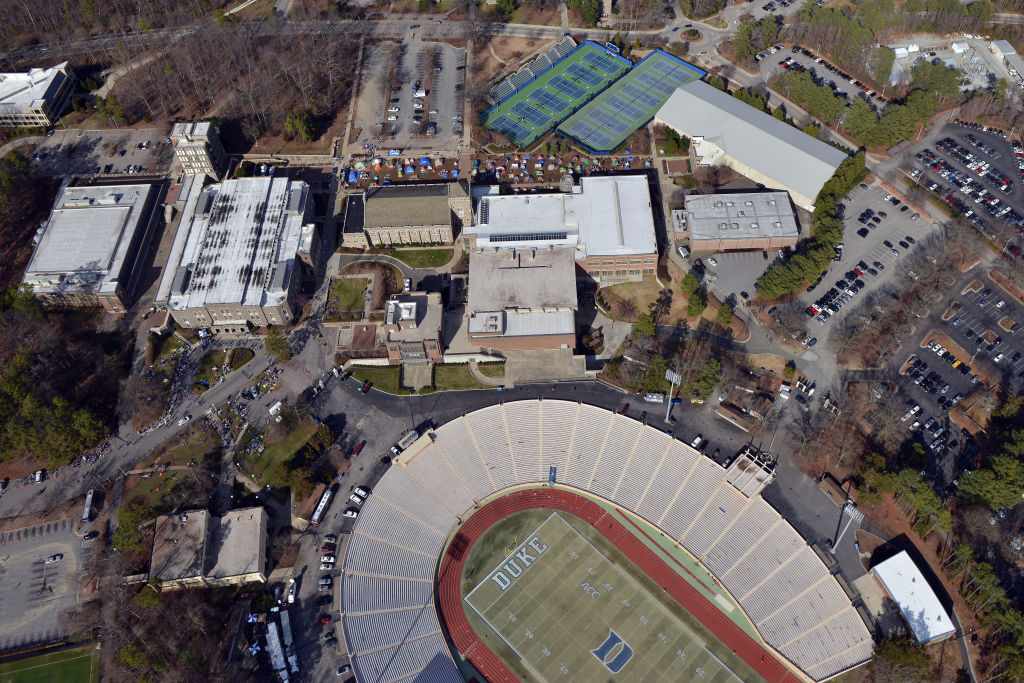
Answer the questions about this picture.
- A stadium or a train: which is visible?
stadium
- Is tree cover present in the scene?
Yes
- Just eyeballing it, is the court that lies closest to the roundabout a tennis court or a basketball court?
tennis court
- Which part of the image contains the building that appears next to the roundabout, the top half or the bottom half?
top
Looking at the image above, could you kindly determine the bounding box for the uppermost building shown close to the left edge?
[0,62,79,132]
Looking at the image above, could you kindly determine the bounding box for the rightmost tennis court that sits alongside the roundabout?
[558,50,707,150]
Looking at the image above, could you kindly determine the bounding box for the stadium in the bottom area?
[340,398,871,683]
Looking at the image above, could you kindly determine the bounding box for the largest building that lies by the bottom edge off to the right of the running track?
[867,551,954,649]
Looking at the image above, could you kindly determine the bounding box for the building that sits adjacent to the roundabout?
[655,80,849,215]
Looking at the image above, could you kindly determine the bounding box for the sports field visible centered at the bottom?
[462,509,748,683]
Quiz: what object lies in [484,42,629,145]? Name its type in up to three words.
tennis court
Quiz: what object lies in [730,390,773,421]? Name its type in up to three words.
shed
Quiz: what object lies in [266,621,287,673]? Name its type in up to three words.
trailer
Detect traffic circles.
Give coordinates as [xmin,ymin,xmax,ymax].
[663,19,720,53]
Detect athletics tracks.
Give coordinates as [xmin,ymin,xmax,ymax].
[438,490,804,683]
